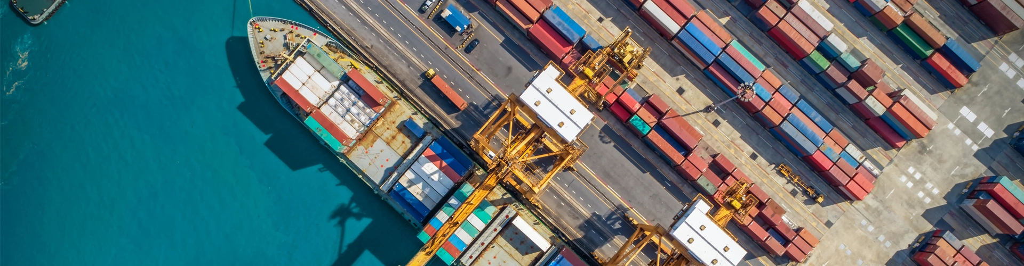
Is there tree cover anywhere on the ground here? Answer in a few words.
No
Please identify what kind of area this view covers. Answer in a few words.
port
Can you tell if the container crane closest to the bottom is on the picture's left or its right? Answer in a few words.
right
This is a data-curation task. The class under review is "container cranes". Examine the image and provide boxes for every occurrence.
[403,47,612,266]
[582,25,654,108]
[597,181,763,266]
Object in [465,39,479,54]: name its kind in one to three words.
car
